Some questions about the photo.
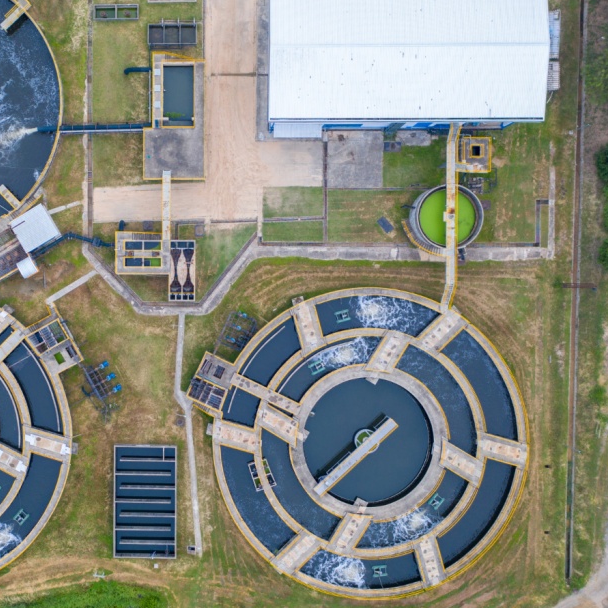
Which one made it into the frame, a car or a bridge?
bridge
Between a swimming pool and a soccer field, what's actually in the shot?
swimming pool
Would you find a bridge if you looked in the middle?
Yes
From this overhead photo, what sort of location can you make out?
industrial area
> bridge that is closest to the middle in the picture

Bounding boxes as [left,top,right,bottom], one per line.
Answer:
[292,295,326,352]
